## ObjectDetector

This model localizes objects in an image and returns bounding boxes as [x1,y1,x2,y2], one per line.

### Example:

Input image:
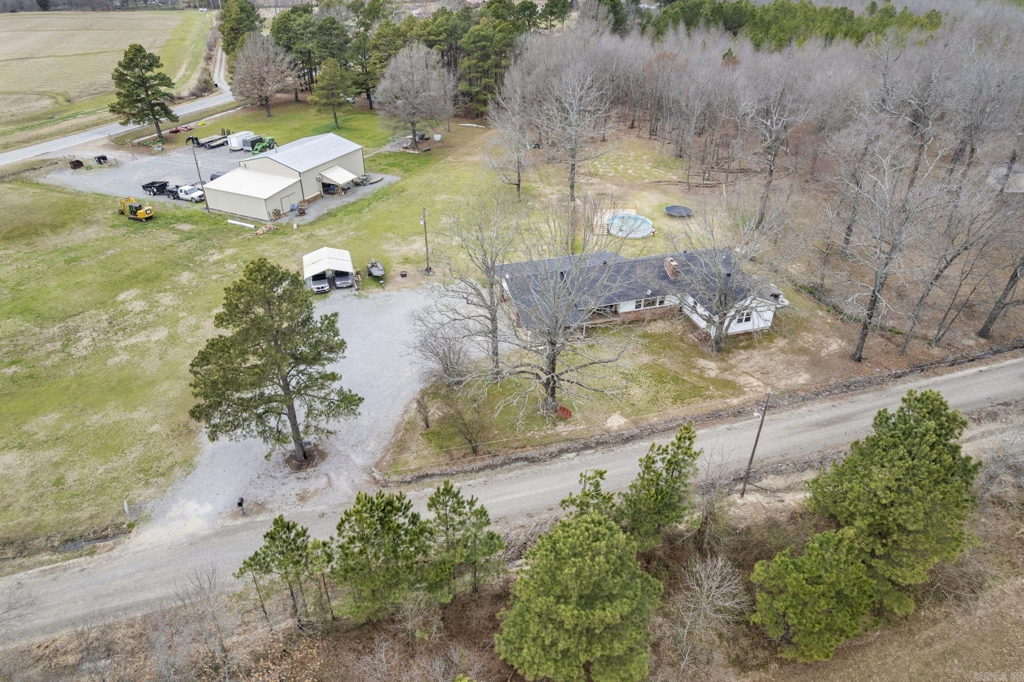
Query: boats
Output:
[368,254,385,275]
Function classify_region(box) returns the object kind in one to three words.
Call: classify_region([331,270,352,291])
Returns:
vehicle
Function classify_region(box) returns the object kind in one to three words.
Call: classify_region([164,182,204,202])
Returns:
vehicle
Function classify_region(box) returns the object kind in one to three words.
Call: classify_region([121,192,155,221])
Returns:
work vehicle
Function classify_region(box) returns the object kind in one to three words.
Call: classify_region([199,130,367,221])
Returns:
building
